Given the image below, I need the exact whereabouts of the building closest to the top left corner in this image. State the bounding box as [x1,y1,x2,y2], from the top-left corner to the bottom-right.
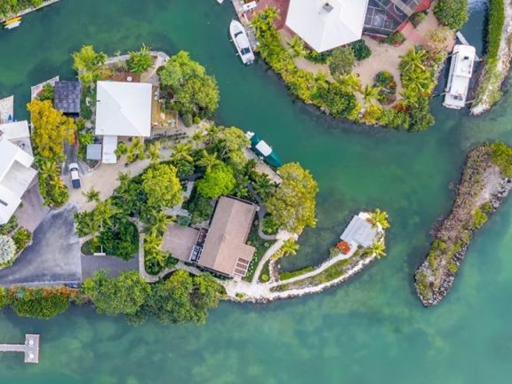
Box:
[54,81,80,113]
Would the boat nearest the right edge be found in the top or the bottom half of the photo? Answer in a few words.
top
